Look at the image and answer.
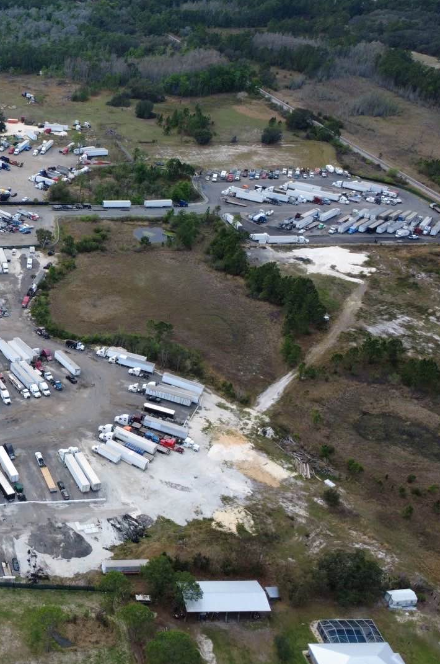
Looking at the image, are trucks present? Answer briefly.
Yes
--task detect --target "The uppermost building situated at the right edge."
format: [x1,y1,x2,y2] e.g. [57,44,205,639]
[388,588,423,615]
